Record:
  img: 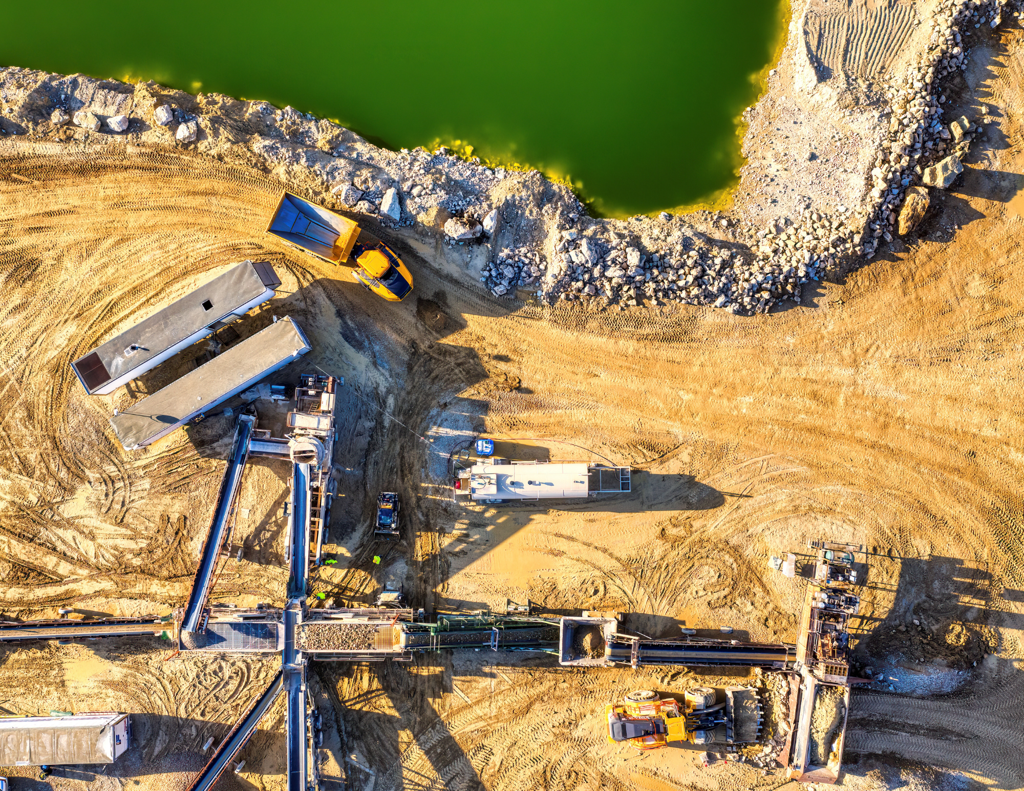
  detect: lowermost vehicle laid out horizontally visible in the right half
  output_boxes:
[604,683,762,757]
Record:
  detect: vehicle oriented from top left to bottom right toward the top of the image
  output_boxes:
[262,189,413,303]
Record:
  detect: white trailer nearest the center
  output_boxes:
[453,456,631,503]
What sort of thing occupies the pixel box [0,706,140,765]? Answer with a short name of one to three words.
trailer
